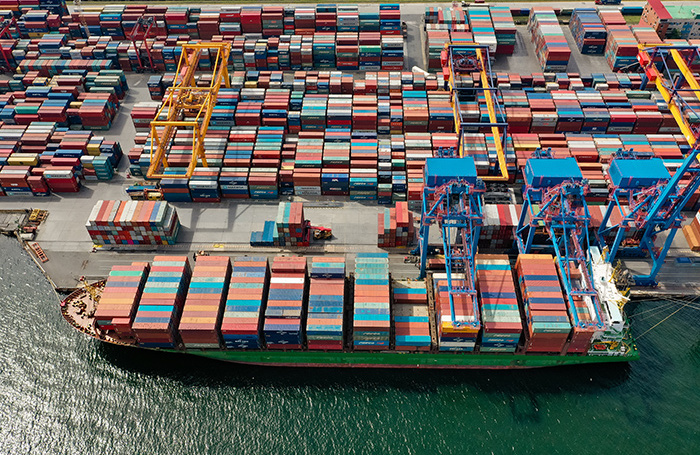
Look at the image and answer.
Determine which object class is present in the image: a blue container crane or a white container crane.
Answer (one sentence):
I can see a blue container crane in this picture.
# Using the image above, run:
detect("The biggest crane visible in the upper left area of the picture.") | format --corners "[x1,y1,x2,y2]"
[147,42,228,178]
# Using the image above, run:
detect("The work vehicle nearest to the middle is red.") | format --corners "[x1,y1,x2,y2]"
[300,218,332,242]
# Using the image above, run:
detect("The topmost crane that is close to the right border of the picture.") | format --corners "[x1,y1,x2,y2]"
[628,40,700,177]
